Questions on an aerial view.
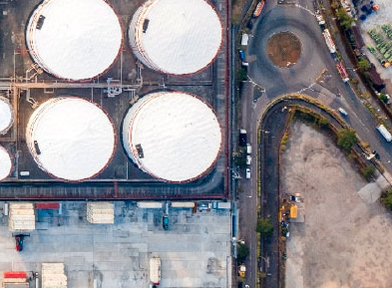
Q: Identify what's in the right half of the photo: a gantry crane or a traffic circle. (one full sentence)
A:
Visible in the right half of the photo is a traffic circle.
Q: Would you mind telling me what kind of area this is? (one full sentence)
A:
This image shows an industrial area.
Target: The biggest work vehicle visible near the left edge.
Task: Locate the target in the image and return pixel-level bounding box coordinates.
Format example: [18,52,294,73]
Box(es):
[12,234,31,251]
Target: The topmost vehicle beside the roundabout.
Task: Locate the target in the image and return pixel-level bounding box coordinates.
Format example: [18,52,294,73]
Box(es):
[252,0,267,17]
